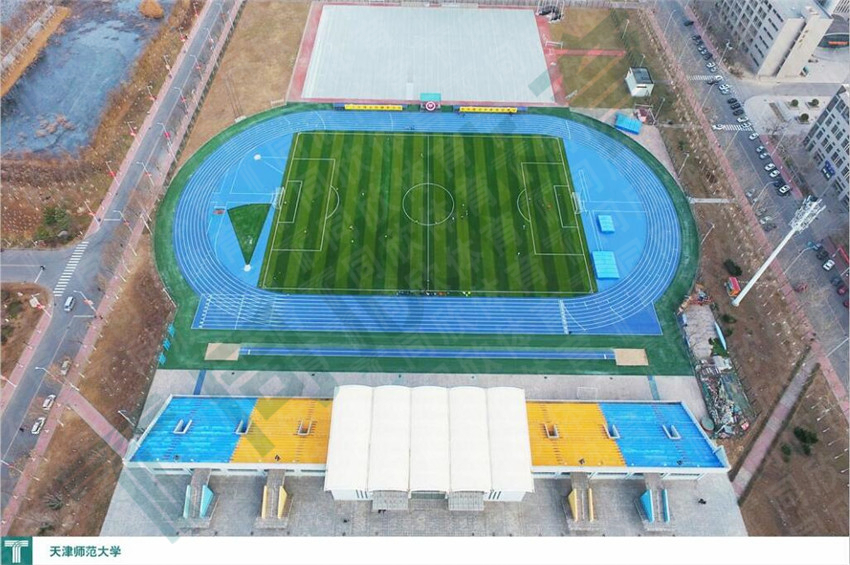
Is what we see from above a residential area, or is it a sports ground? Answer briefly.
sports ground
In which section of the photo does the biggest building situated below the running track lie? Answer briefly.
bottom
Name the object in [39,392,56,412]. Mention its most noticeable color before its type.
white car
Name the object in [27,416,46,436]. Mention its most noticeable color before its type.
white car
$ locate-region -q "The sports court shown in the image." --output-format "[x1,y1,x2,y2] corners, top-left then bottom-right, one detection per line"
[285,3,566,105]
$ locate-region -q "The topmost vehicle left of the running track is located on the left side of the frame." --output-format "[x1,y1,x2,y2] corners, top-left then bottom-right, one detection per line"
[61,295,77,313]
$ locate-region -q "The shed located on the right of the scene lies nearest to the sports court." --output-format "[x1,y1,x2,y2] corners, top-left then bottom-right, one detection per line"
[628,70,656,96]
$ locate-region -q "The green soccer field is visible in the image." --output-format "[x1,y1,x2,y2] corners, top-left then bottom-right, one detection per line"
[258,131,598,298]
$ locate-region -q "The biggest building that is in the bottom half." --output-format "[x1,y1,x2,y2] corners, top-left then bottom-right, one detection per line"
[325,385,532,518]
